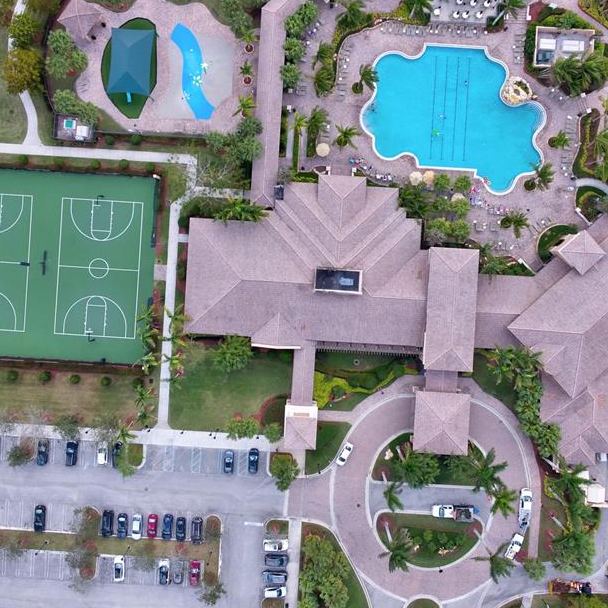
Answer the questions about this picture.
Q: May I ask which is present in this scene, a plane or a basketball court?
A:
basketball court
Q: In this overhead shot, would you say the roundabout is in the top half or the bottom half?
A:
bottom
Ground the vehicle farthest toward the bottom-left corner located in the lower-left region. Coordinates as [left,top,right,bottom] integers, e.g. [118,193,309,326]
[31,506,44,532]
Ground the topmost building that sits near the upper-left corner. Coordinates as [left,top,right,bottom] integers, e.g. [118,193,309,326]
[57,0,102,41]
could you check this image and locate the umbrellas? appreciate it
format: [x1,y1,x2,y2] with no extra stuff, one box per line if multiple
[451,191,464,204]
[409,172,422,185]
[422,172,435,184]
[316,143,330,157]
